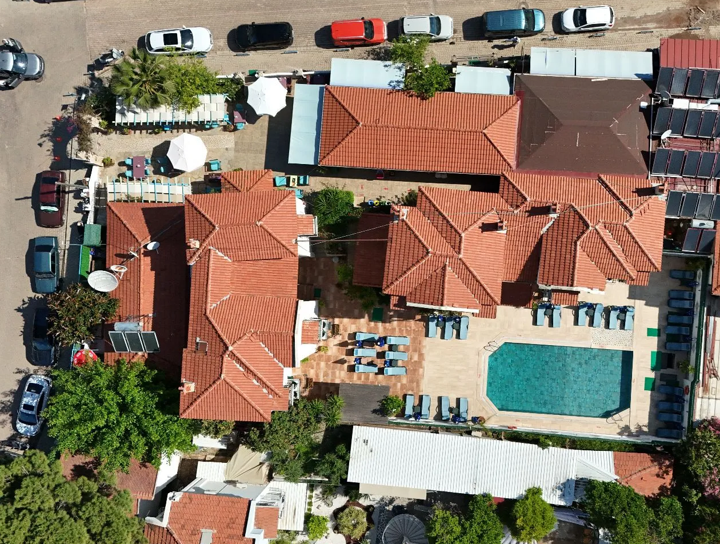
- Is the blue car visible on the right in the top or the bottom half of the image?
top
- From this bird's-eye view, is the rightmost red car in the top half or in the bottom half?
top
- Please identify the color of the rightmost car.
white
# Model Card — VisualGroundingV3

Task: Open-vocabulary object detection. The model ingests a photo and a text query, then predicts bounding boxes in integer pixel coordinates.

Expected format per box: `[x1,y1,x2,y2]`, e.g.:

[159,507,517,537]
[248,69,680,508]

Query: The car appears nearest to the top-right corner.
[559,4,615,35]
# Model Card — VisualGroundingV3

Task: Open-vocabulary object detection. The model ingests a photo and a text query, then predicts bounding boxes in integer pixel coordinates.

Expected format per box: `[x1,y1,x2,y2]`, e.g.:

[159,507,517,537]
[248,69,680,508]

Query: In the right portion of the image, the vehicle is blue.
[483,5,544,40]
